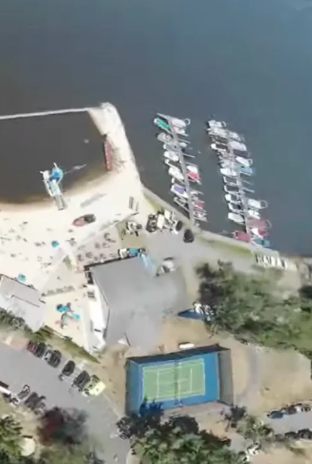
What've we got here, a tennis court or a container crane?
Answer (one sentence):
The image shows a tennis court.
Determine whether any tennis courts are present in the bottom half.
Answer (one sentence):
Yes, you'll find a tennis court in the bottom half.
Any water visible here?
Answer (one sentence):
Yes, there's water in this view.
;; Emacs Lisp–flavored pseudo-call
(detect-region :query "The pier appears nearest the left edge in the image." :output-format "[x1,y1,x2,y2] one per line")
[156,112,207,228]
